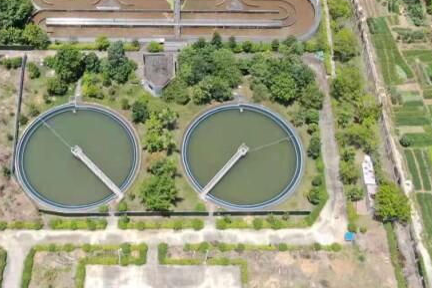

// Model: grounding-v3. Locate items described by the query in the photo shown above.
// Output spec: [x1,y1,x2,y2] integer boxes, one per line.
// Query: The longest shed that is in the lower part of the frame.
[358,154,377,206]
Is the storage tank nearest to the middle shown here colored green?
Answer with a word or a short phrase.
Yes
